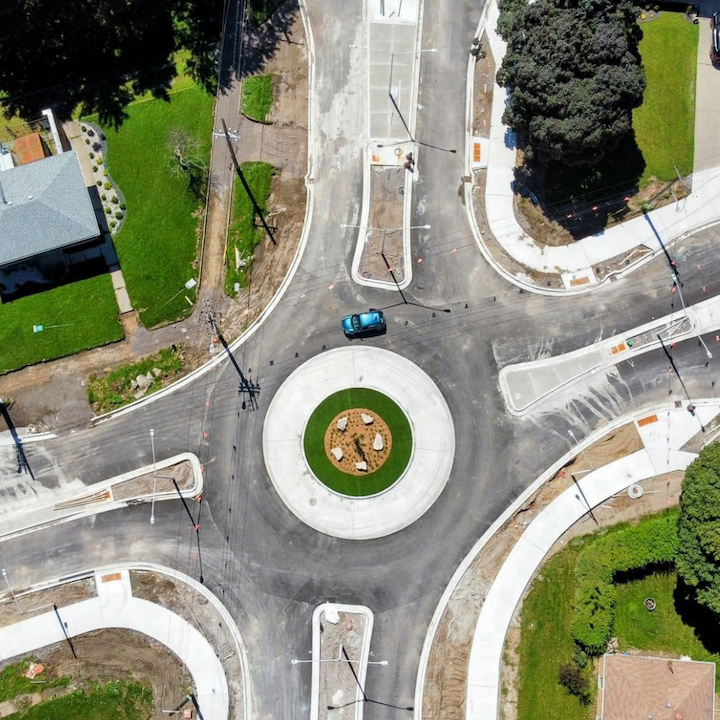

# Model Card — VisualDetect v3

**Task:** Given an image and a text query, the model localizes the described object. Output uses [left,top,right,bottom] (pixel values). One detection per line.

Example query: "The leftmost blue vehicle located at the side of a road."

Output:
[343,315,386,335]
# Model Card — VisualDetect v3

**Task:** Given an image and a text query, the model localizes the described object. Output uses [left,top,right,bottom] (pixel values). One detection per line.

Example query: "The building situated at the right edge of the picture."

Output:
[598,652,716,720]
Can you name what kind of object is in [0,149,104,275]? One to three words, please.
house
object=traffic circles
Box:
[221,307,499,585]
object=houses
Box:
[0,149,104,275]
[598,652,716,720]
